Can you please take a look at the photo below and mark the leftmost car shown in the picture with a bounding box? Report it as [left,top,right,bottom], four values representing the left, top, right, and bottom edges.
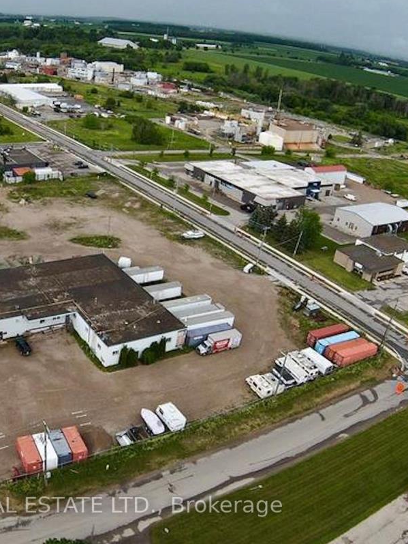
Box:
[15,334,31,352]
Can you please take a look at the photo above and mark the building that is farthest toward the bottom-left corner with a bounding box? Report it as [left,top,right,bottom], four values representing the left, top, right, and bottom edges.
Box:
[0,254,186,367]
